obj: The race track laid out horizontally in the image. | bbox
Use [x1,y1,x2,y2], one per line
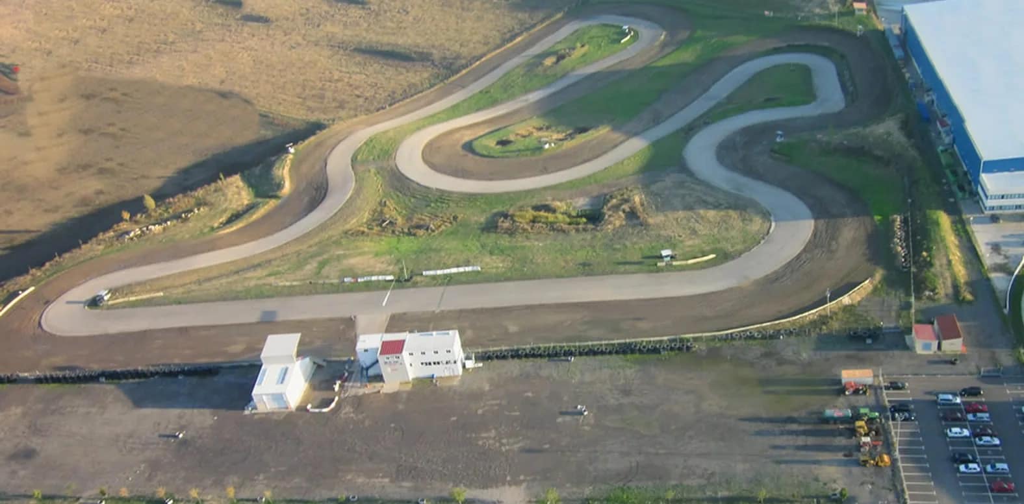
[39,15,845,336]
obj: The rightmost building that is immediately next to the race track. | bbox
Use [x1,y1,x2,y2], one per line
[906,0,1024,202]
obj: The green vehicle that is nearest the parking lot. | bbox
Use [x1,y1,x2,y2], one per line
[856,406,881,424]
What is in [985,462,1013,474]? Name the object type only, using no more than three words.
vehicle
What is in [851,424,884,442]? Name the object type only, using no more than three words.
work vehicle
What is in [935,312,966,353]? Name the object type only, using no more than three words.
building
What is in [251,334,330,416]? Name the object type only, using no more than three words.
house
